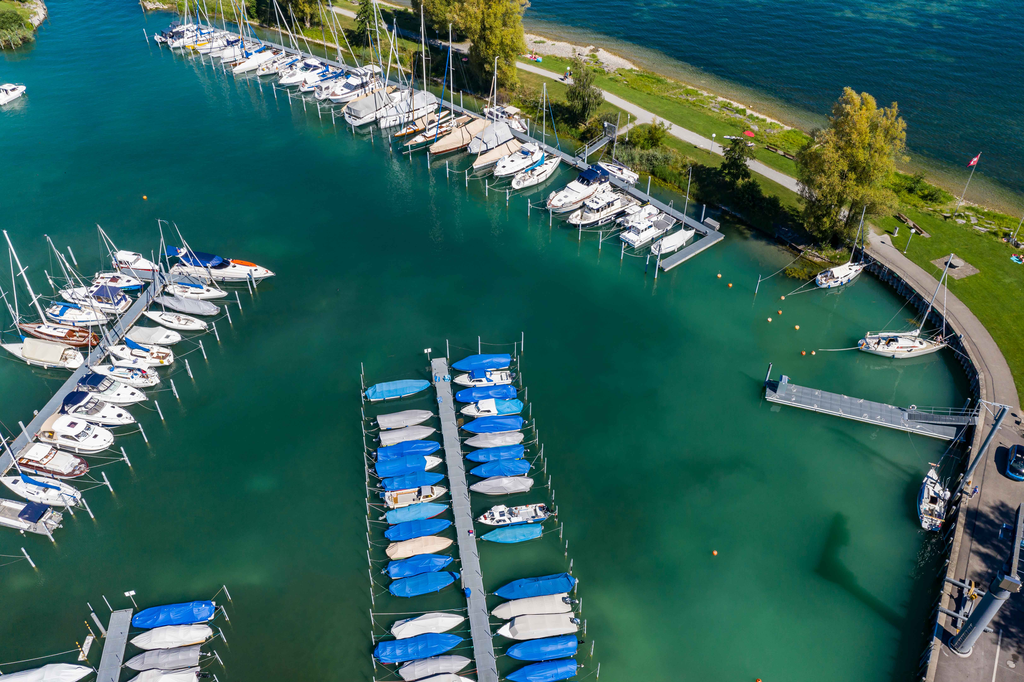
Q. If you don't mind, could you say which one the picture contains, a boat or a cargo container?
boat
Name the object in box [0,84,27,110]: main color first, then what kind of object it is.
white boat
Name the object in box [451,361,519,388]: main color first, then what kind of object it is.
white boat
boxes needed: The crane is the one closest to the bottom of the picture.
[948,489,1024,657]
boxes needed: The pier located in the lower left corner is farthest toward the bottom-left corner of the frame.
[97,608,135,682]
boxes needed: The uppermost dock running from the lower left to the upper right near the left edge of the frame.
[0,282,163,484]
